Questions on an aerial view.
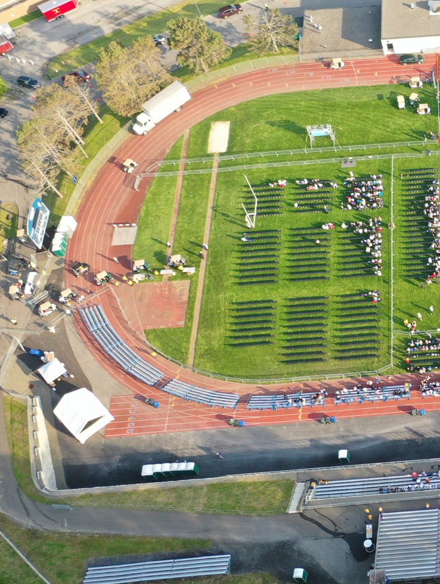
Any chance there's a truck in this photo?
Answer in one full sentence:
Yes, the image includes a truck.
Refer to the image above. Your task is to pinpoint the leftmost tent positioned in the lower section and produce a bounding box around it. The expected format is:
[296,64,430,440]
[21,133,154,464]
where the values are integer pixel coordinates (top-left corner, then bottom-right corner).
[38,359,74,390]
